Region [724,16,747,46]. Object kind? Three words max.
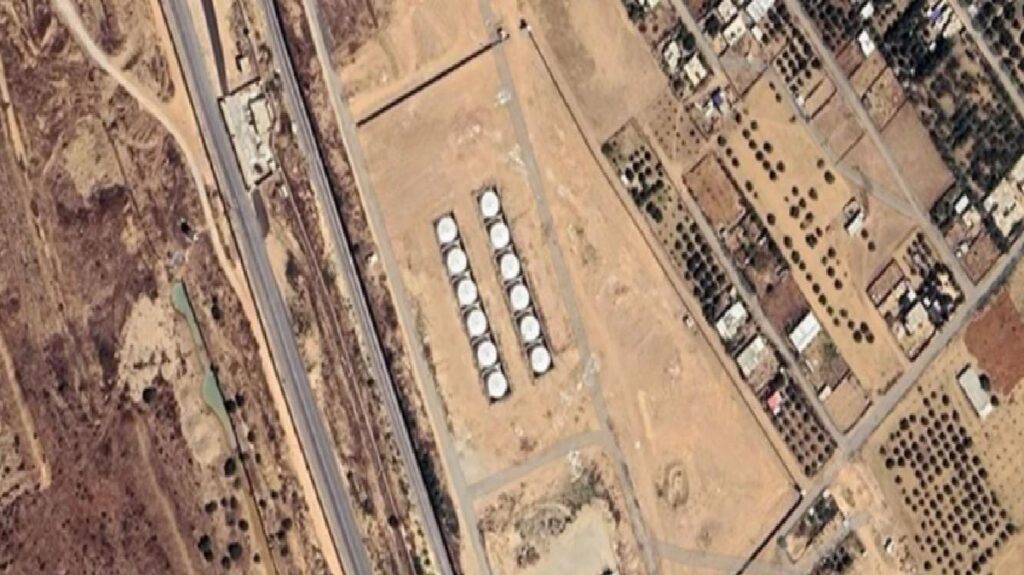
house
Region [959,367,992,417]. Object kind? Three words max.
barn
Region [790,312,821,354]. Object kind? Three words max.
building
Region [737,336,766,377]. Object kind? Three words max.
house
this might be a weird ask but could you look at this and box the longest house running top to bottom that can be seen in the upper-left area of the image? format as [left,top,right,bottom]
[250,97,271,133]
